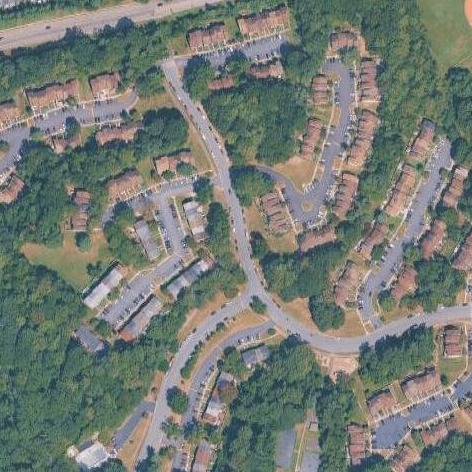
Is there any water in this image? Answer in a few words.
No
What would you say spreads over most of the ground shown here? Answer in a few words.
trees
